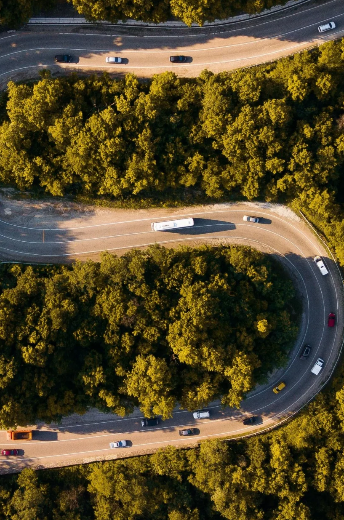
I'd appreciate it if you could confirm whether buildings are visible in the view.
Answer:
No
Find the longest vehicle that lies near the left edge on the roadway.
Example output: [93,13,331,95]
[5,431,33,444]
